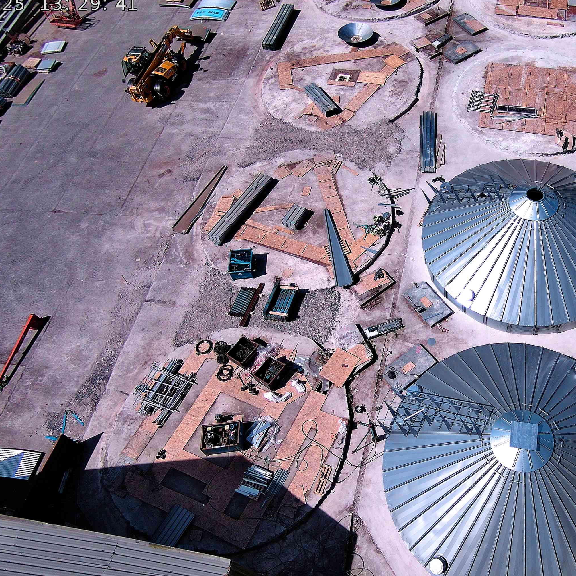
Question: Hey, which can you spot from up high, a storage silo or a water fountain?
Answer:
storage silo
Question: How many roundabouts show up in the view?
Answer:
none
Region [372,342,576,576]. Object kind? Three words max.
silo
